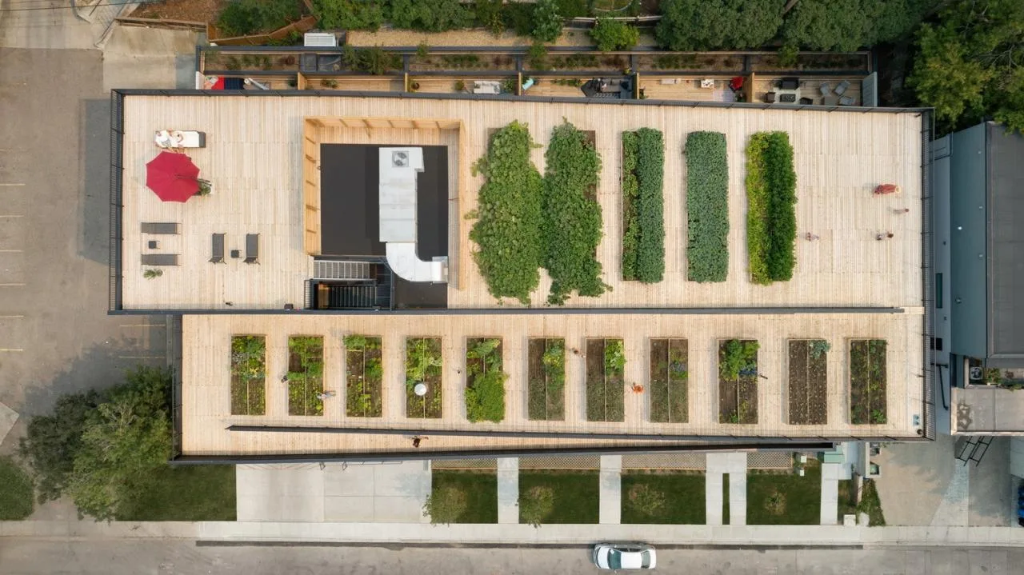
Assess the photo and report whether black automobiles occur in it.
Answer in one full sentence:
No, there is no black automobile in the image.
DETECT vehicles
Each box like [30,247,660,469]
[592,541,657,574]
